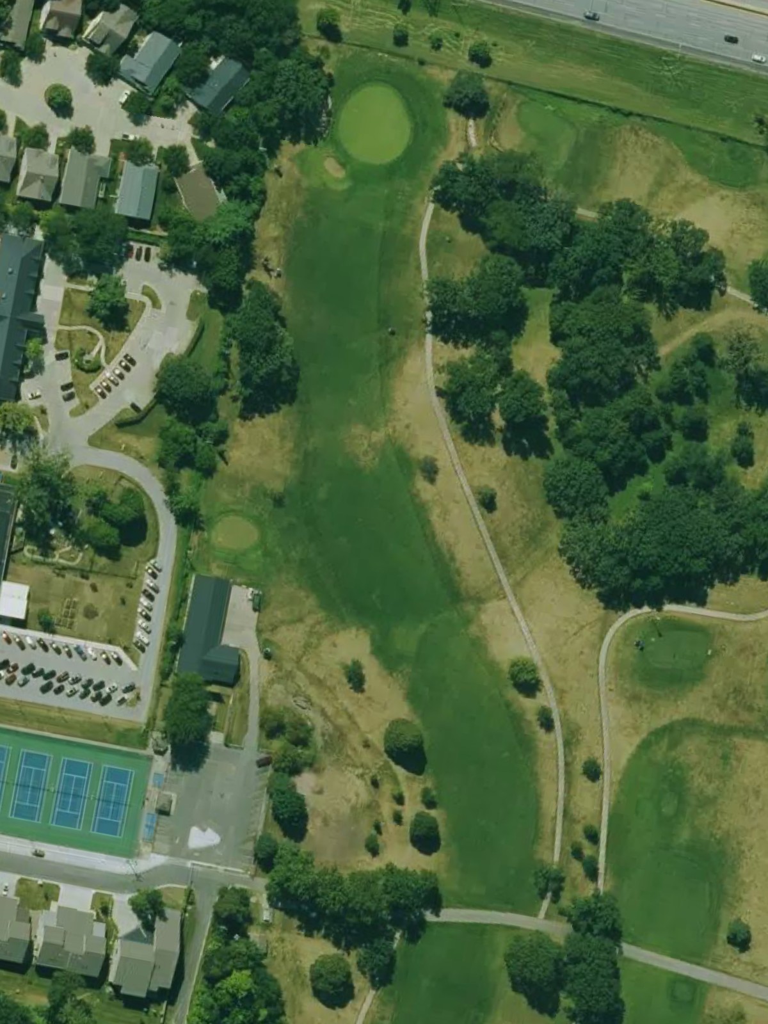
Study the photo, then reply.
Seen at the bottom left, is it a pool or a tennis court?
tennis court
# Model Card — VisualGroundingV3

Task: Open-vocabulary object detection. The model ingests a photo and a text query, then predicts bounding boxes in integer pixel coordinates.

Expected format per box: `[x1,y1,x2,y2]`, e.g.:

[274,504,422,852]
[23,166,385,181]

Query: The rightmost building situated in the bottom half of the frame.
[176,574,239,687]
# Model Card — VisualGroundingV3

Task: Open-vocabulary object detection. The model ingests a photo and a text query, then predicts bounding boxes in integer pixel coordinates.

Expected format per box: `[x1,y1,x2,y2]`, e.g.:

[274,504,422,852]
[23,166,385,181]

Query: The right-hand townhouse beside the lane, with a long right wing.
[113,910,181,997]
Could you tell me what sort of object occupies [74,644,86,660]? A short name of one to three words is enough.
vehicle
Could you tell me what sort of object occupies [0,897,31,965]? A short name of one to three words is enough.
house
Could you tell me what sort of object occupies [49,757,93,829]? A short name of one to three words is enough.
tennis court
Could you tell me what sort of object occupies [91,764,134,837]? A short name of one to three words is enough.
tennis court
